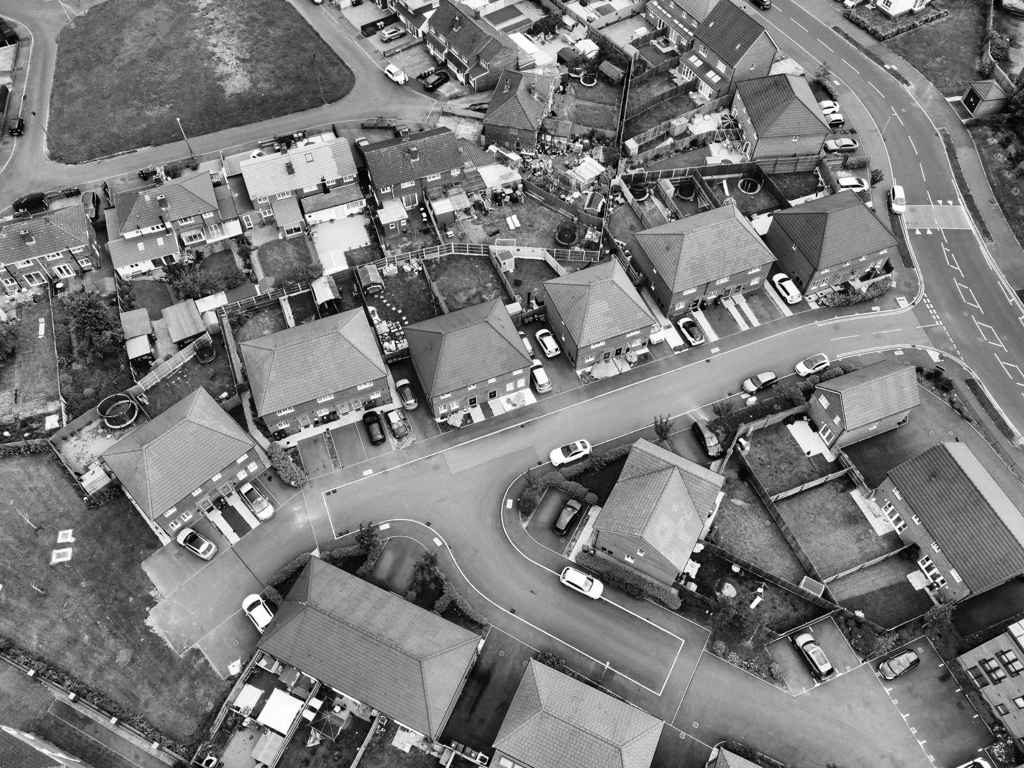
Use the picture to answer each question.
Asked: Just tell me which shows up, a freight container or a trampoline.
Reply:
trampoline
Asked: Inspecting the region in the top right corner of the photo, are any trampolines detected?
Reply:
Yes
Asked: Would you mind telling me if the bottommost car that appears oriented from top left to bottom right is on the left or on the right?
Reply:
right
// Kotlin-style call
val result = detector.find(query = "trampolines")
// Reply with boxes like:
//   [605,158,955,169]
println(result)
[675,185,697,201]
[95,392,141,433]
[628,180,651,204]
[554,218,582,249]
[579,65,600,89]
[190,339,220,368]
[632,55,649,75]
[737,178,763,196]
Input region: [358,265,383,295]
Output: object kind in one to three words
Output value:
shed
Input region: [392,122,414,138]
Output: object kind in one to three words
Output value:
car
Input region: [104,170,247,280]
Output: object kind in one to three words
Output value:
house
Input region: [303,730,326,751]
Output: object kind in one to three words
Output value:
tent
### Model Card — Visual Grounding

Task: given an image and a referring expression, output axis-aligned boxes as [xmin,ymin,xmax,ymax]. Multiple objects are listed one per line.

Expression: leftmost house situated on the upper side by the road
[0,202,104,296]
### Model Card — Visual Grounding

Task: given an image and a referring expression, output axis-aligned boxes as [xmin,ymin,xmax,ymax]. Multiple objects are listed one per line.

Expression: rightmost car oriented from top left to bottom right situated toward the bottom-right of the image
[794,632,838,681]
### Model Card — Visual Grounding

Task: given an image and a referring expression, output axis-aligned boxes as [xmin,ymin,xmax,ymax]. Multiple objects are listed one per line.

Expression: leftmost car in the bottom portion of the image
[174,526,219,561]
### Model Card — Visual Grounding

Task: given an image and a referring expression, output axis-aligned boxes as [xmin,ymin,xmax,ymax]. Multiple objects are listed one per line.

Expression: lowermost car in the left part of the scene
[235,592,270,636]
